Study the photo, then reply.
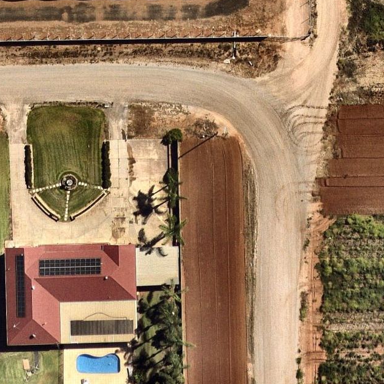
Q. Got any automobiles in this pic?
No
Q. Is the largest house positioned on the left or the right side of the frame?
left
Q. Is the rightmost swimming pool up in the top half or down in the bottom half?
bottom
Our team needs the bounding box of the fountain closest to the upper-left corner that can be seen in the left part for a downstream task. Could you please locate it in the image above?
[61,174,77,191]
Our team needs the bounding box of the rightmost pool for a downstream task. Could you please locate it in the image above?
[77,353,121,374]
